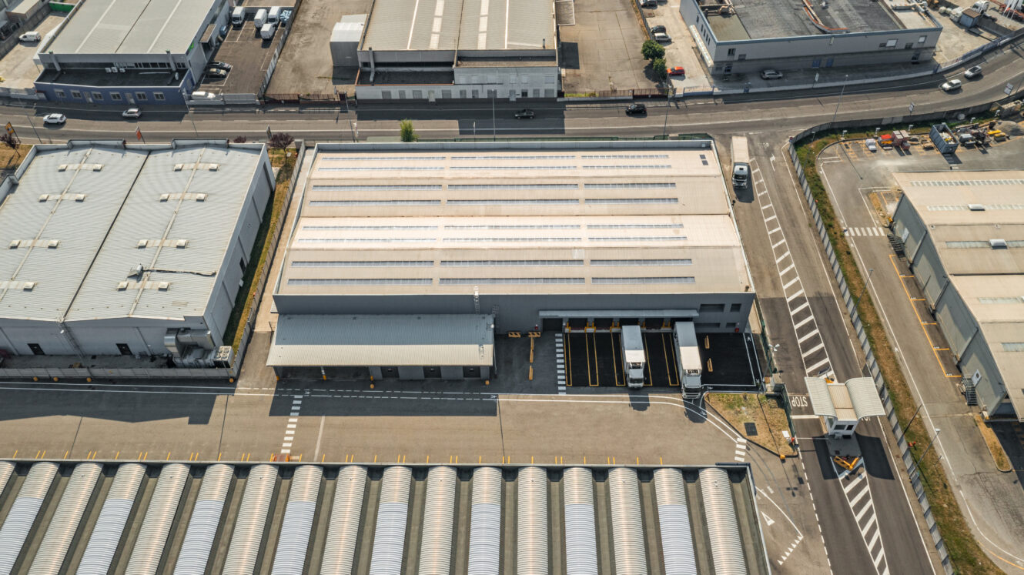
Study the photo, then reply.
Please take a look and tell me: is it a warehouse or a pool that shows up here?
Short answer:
warehouse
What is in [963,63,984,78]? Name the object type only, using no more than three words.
car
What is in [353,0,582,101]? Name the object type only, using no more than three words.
building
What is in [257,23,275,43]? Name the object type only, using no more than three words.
vehicle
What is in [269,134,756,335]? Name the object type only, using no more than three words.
warehouse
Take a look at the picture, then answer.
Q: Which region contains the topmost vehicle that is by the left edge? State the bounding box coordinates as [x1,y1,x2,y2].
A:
[19,30,42,42]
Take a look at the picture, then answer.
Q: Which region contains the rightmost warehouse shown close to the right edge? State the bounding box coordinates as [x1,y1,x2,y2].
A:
[889,172,1024,422]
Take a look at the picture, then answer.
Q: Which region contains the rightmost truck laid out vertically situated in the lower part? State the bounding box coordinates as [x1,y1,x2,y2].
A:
[671,322,704,403]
